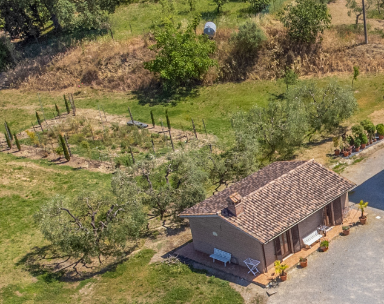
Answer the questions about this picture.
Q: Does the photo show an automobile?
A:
No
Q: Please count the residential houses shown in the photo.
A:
one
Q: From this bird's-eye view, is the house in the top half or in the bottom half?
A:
bottom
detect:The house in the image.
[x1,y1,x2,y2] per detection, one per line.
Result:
[177,158,358,271]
